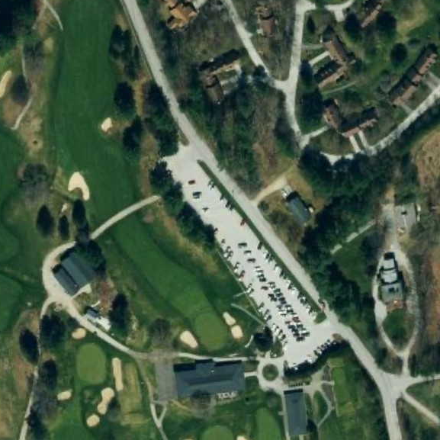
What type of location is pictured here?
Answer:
golf course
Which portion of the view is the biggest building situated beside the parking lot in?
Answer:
bottom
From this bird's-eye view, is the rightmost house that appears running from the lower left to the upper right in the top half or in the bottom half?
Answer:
top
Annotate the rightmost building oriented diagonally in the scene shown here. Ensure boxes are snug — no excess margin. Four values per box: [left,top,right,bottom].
[386,45,440,105]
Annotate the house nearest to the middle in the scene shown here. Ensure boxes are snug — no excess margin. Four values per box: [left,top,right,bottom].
[286,196,311,223]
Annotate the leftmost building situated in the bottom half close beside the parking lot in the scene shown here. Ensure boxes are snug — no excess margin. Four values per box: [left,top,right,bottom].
[173,357,247,399]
